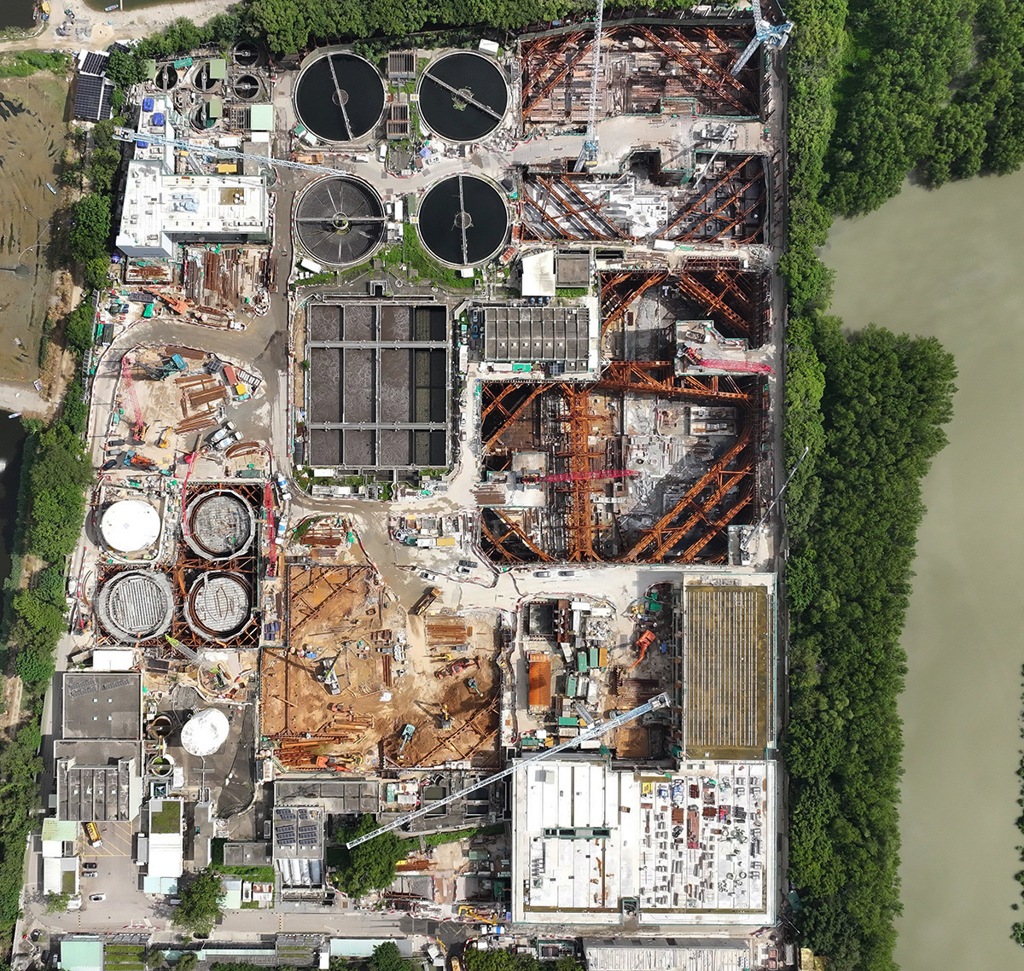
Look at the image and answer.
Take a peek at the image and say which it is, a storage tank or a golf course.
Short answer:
storage tank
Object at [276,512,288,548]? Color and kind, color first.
white vehicle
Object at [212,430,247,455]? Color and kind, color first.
white truck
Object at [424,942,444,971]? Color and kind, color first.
white vehicle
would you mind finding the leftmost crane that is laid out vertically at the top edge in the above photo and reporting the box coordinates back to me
[562,0,604,187]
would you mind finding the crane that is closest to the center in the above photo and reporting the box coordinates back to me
[515,469,641,492]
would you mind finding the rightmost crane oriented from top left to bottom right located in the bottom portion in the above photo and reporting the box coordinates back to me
[165,629,235,698]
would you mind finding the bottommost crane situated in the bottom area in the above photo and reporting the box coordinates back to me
[348,696,671,848]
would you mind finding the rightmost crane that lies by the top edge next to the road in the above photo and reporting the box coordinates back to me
[722,0,797,91]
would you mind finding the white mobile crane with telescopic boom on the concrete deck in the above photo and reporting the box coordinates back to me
[690,110,740,184]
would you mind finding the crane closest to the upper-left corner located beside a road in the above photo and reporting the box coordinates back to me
[114,127,346,179]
